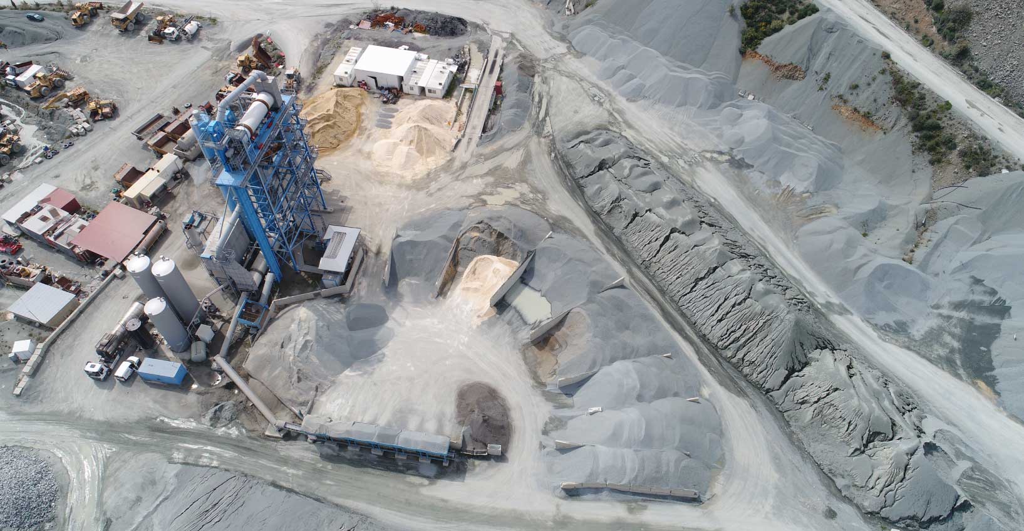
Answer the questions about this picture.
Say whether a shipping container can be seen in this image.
Yes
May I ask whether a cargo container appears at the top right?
No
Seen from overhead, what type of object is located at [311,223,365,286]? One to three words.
building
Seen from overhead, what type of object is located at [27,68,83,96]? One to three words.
work vehicle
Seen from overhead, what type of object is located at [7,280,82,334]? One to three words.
shed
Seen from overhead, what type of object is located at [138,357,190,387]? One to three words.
shipping container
